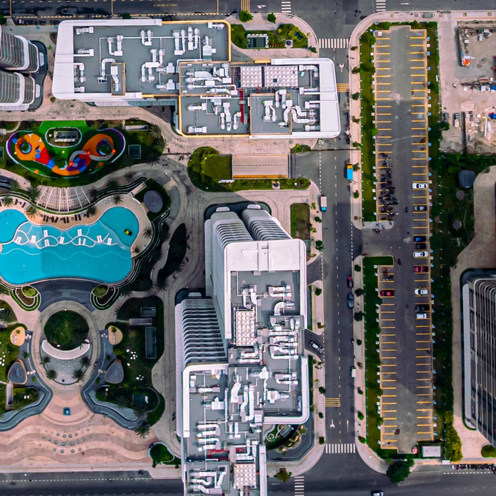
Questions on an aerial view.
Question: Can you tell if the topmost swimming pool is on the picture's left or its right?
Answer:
left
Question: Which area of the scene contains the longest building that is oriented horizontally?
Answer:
top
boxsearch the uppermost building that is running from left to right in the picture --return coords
[53,19,340,140]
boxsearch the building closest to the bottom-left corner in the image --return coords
[7,360,28,386]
